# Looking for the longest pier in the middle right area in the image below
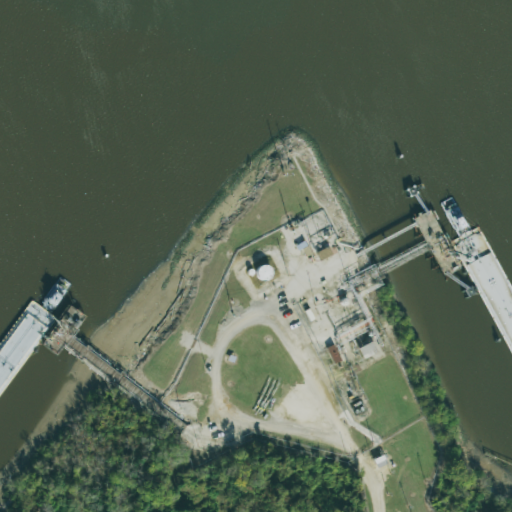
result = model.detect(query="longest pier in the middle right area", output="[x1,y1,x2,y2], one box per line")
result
[416,208,464,276]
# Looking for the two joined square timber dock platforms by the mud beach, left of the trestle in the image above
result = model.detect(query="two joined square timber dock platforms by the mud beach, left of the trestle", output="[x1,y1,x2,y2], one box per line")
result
[44,306,87,355]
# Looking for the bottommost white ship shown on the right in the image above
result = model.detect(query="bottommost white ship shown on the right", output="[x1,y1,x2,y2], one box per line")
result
[452,228,512,352]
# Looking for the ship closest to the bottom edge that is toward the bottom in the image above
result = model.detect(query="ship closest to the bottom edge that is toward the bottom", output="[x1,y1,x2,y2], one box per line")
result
[0,304,54,396]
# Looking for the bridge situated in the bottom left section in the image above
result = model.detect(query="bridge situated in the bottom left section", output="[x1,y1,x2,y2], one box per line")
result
[64,333,186,430]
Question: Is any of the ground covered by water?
Yes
